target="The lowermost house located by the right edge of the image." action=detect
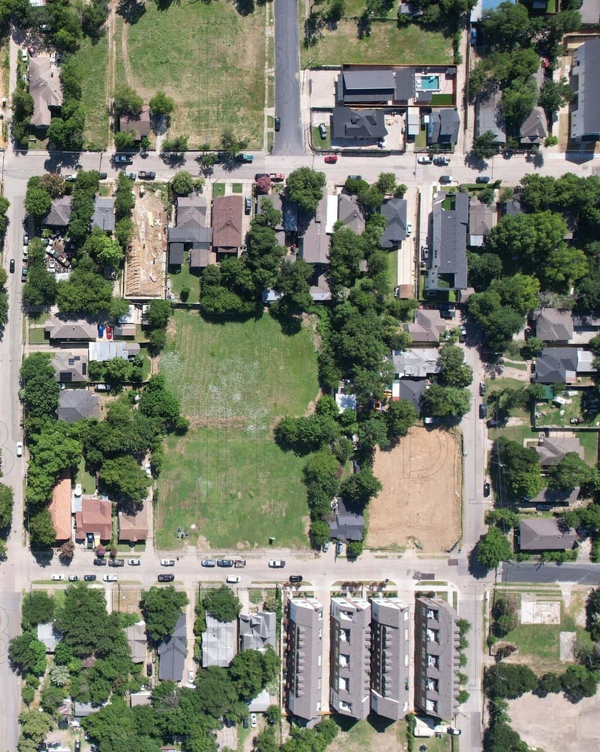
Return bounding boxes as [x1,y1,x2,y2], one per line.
[514,518,576,550]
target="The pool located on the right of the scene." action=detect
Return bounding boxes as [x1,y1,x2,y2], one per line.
[418,72,442,91]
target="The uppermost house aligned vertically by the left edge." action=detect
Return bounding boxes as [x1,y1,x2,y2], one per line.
[29,56,61,127]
